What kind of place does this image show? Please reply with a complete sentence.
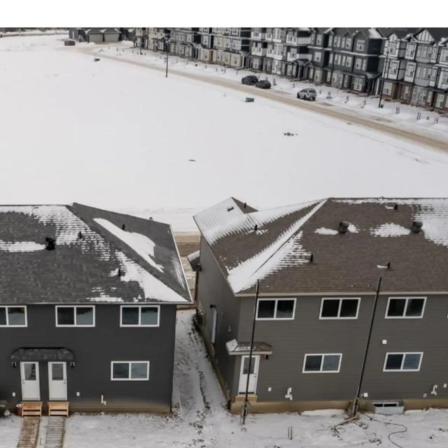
This image shows a residential area.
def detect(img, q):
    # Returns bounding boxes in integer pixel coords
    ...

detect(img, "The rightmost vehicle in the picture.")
[294,86,321,100]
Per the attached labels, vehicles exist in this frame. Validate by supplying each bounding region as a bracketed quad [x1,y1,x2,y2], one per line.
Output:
[255,77,275,88]
[241,73,261,83]
[294,86,321,100]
